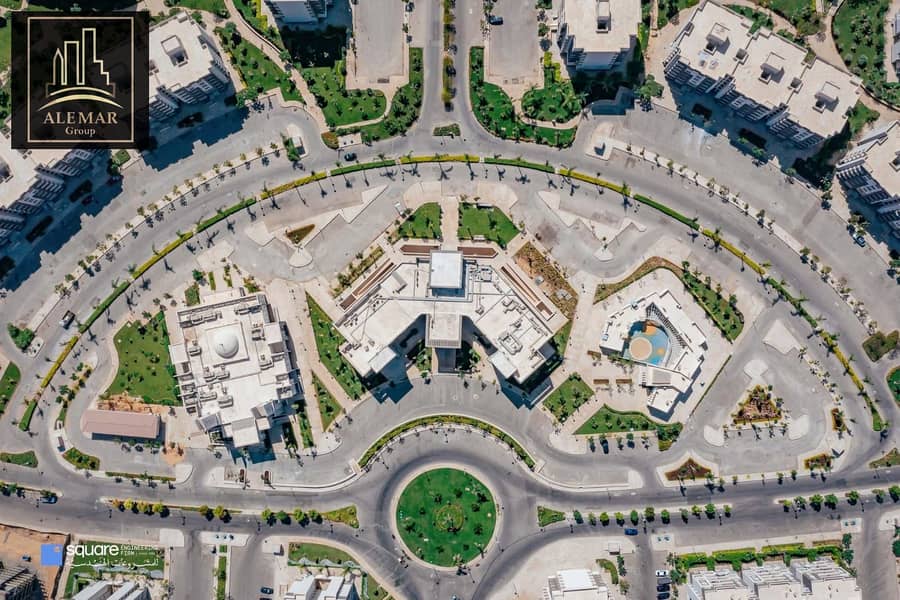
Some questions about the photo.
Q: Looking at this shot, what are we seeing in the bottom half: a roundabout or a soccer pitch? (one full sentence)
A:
What appears in the bottom half is a roundabout.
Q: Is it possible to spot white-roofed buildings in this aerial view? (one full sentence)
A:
Yes, looking at the shot, I can spot a white-roofed building.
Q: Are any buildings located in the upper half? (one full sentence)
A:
Yes, you'll find a building in the upper half.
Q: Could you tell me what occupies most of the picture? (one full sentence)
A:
The largest share of the image is taken up by paved ground.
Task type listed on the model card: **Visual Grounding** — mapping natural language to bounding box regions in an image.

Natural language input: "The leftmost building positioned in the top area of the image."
[0,99,112,250]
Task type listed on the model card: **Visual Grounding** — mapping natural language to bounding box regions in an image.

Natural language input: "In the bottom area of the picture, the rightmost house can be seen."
[787,553,857,600]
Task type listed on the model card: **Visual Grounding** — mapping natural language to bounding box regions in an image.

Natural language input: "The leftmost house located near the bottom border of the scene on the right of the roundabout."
[545,560,607,600]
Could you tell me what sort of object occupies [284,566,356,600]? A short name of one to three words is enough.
house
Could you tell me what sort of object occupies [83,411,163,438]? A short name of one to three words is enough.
shed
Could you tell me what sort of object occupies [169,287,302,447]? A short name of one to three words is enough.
building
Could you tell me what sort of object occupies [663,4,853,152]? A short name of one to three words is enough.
building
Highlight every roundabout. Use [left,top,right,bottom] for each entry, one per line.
[390,459,503,575]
